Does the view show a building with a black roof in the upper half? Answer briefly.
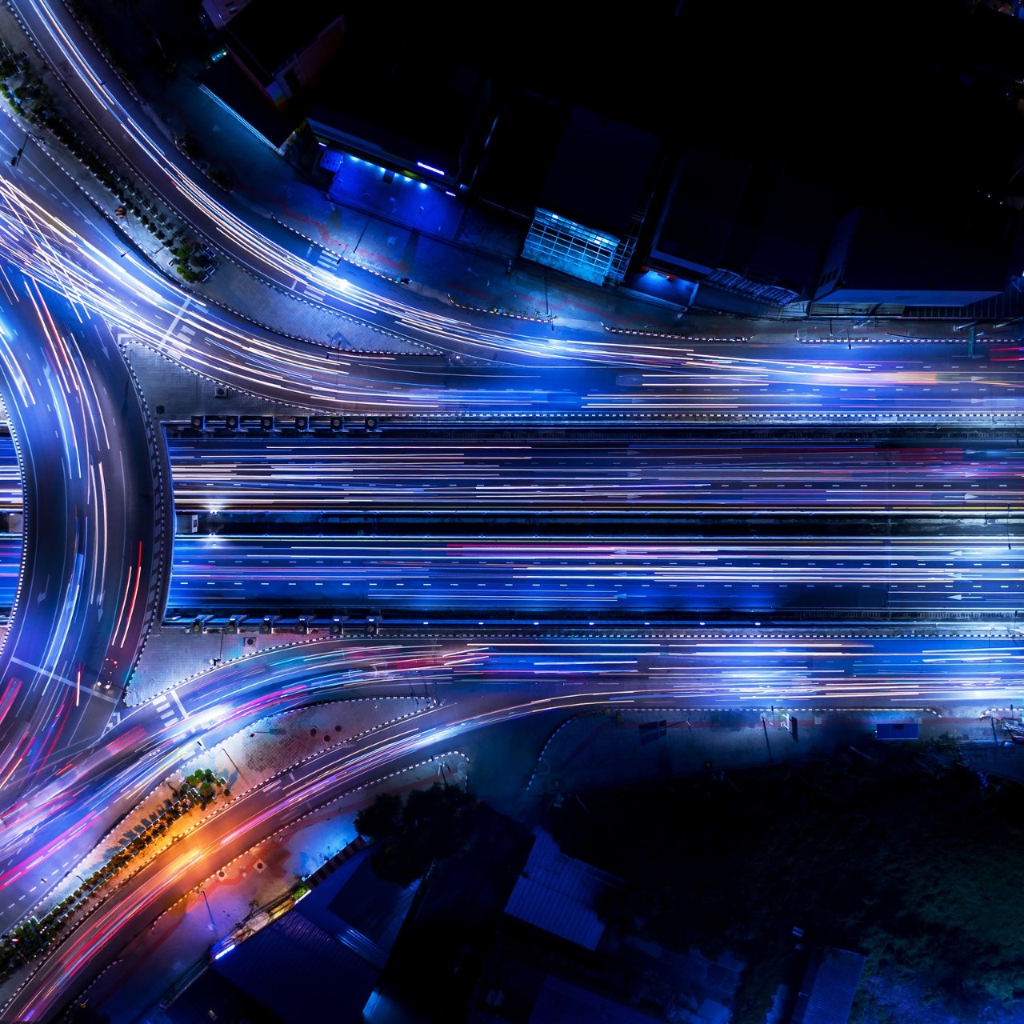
Yes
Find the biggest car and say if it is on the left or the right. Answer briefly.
left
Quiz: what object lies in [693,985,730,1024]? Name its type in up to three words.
shed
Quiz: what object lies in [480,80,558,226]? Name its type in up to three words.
building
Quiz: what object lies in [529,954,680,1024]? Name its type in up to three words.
house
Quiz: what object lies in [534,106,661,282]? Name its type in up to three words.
building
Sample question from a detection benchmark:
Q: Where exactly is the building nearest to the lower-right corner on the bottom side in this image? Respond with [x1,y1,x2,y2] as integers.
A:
[793,927,866,1024]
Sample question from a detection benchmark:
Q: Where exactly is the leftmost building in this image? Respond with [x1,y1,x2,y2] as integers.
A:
[100,0,184,58]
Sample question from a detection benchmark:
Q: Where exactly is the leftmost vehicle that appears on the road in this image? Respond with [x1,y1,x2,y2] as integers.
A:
[96,659,116,690]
